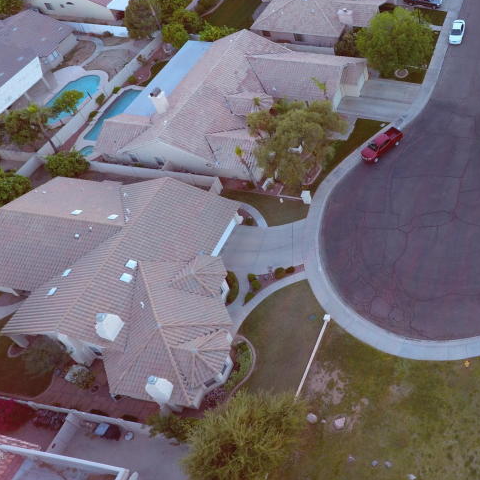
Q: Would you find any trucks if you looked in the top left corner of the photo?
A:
No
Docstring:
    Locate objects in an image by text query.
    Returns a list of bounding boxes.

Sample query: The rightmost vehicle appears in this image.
[449,20,464,42]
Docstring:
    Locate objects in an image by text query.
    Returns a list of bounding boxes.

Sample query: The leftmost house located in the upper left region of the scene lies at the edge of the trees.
[0,9,79,114]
